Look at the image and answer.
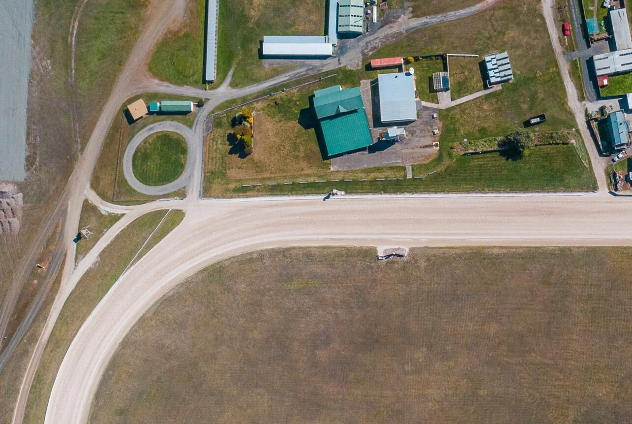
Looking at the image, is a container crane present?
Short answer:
No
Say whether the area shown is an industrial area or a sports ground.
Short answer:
sports ground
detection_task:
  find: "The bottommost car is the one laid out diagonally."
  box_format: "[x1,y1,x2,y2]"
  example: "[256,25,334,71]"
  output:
[611,150,627,163]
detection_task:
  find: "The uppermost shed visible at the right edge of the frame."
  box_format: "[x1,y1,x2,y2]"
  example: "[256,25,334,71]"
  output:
[610,8,632,50]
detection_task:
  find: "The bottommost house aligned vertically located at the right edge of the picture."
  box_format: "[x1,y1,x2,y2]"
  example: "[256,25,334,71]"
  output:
[610,111,629,146]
